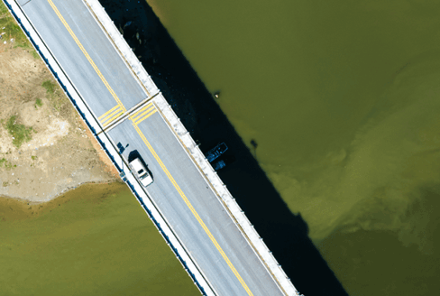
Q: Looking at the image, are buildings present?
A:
No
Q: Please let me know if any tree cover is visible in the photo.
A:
No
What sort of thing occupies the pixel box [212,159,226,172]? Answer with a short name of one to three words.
boat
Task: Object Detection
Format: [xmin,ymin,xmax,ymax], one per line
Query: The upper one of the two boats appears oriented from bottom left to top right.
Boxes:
[206,144,228,163]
